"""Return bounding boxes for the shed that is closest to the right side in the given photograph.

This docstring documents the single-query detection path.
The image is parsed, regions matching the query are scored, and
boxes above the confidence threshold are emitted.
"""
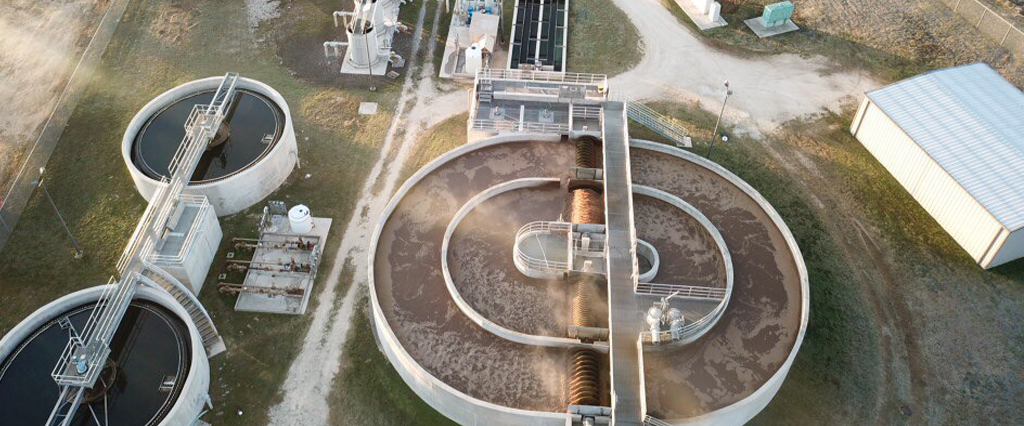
[849,57,1024,270]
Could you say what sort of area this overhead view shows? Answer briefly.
industrial area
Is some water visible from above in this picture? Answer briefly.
Yes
